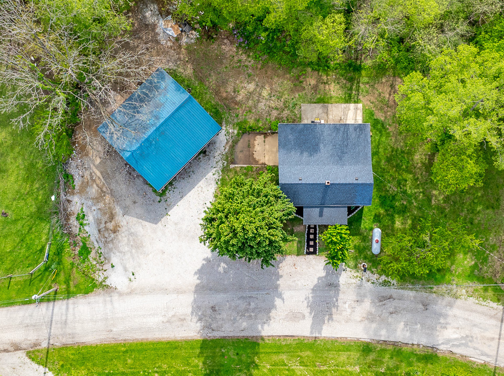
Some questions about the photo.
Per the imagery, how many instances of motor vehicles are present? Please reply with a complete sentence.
I count no motor vehicles.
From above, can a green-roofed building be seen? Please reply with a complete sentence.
No, the picture doesn't show any green-roofed building.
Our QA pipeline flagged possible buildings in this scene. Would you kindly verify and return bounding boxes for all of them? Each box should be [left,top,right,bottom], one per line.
[99,68,222,192]
[278,123,376,225]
